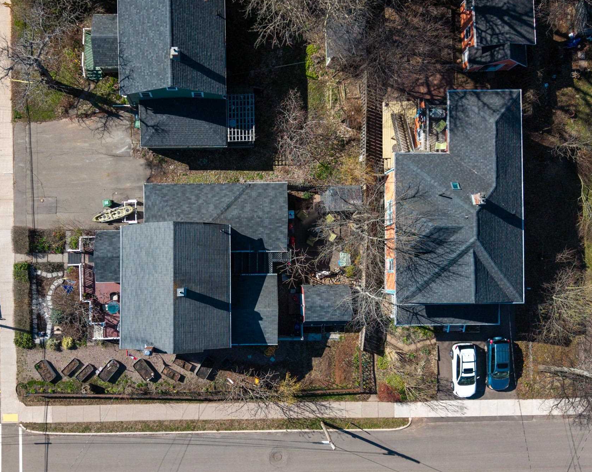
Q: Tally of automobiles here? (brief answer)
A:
2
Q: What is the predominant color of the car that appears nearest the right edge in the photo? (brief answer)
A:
blue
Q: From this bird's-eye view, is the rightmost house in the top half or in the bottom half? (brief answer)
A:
top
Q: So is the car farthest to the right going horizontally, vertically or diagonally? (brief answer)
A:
vertically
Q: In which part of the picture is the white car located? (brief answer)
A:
bottom right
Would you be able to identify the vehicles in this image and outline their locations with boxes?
[486,335,515,392]
[452,341,482,399]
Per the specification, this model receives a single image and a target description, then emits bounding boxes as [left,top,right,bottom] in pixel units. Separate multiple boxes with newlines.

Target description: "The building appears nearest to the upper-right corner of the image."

[457,0,537,75]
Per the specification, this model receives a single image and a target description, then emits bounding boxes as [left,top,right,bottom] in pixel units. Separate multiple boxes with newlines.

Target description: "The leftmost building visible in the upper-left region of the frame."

[81,0,227,151]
